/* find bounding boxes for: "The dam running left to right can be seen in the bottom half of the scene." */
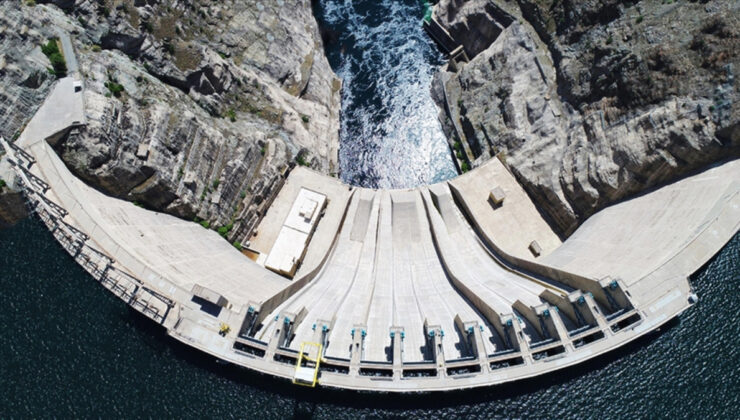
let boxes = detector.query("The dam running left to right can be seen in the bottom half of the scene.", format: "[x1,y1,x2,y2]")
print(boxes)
[0,126,740,393]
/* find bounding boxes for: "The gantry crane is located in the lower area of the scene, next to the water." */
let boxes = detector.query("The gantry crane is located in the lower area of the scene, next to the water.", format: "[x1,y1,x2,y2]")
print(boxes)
[293,342,326,388]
